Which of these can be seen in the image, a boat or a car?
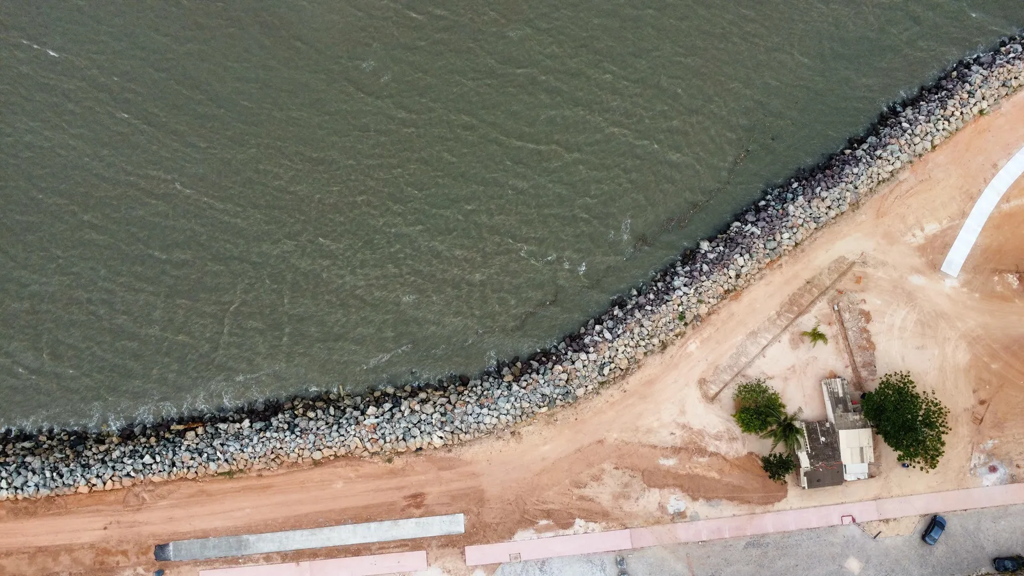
car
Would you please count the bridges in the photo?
none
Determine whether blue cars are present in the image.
Yes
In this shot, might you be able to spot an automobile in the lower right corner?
Yes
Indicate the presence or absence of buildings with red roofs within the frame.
No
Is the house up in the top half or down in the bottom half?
bottom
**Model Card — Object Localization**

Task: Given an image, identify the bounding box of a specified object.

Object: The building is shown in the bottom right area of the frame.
[794,377,883,489]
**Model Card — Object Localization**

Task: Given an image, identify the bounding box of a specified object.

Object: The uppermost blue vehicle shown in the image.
[923,515,947,547]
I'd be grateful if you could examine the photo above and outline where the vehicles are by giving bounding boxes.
[993,557,1024,574]
[923,515,947,547]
